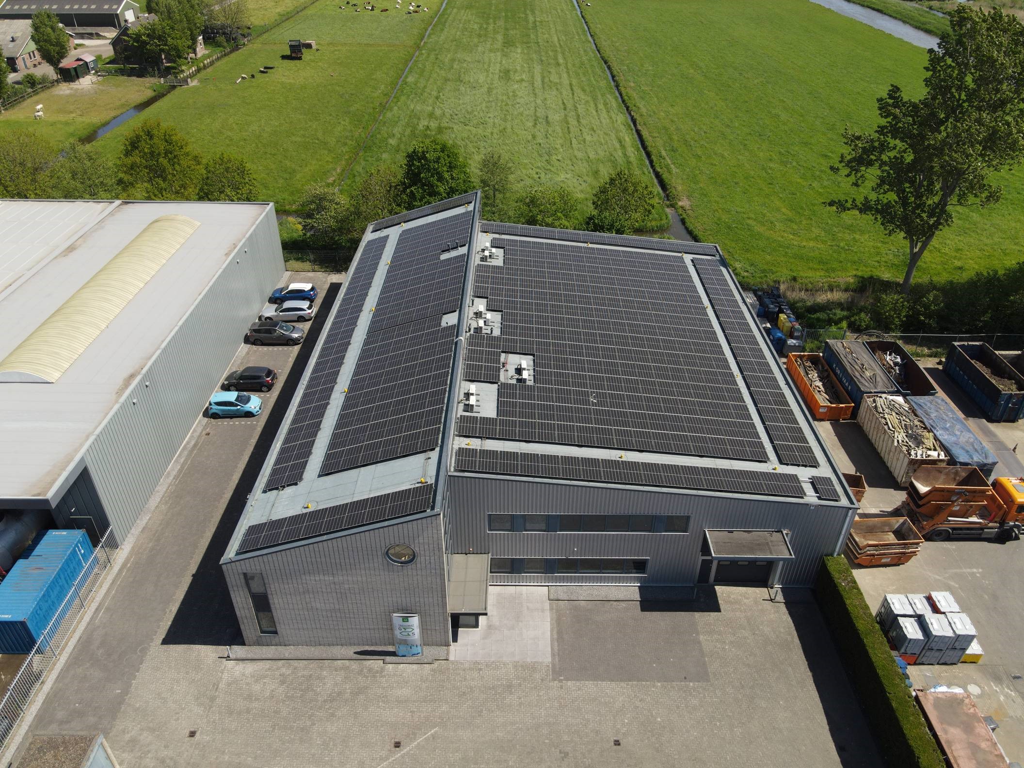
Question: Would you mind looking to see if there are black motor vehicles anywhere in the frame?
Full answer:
Yes, the image includes a black motor vehicle.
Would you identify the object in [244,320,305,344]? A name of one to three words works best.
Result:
car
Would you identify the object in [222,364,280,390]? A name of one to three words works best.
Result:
car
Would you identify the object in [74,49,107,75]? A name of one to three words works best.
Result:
shed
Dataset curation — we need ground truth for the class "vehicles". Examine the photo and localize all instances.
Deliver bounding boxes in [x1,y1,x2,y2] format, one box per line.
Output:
[270,279,319,301]
[207,390,266,418]
[222,364,280,390]
[260,298,317,320]
[868,475,1024,538]
[244,320,305,344]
